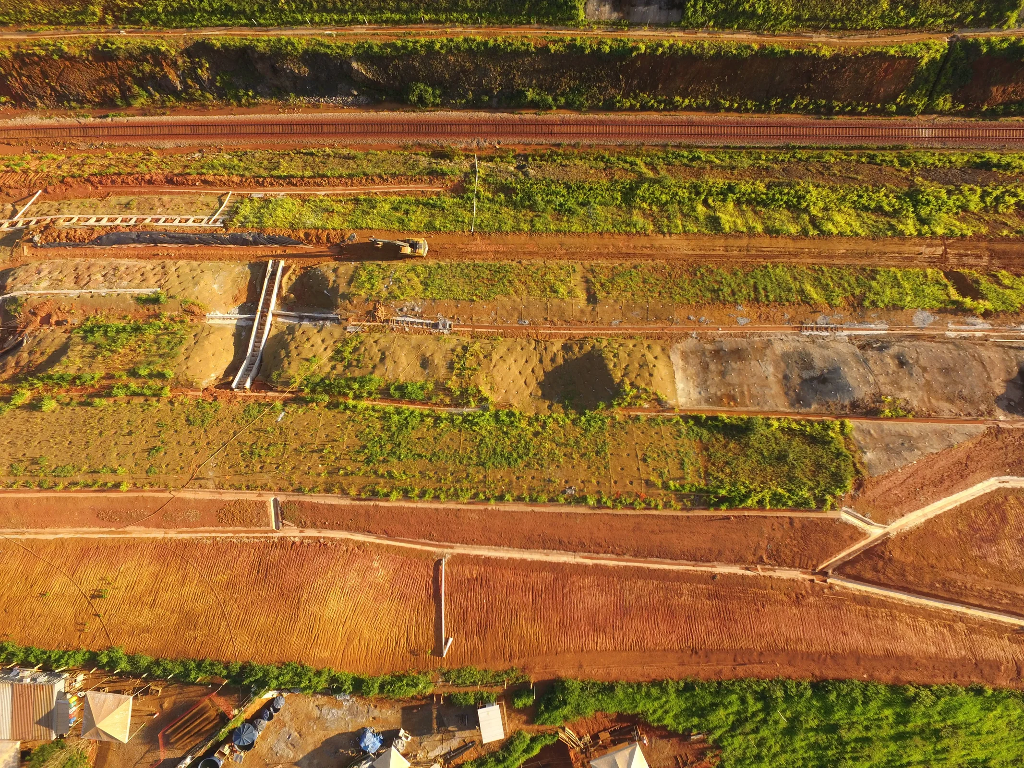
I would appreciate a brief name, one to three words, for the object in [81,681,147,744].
tent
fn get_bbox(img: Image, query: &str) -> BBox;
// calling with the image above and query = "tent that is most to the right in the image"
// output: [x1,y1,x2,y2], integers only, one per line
[587,729,649,768]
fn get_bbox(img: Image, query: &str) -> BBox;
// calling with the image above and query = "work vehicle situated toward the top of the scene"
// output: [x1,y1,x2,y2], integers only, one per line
[367,235,430,261]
